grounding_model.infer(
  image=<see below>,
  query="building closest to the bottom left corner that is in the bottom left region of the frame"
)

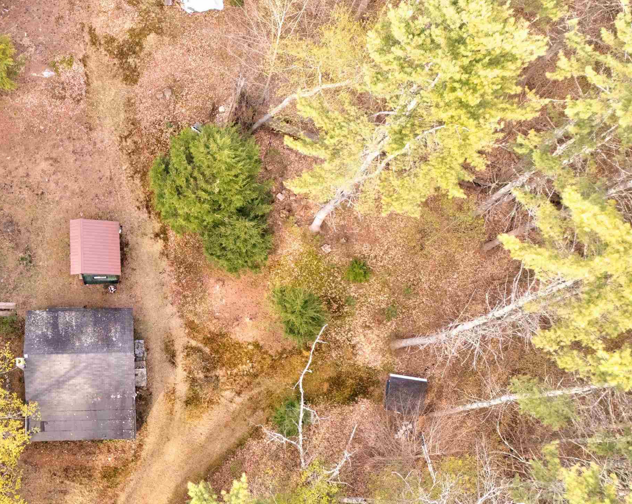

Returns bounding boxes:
[10,306,136,442]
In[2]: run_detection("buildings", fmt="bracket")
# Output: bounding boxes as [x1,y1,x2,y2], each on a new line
[70,217,126,282]
[10,306,136,442]
[381,372,428,415]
